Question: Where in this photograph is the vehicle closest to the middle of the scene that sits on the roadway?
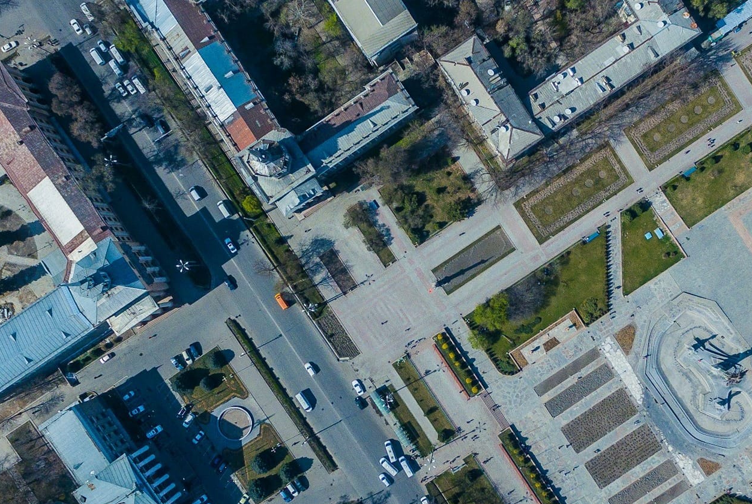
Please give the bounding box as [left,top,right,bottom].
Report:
[274,293,289,311]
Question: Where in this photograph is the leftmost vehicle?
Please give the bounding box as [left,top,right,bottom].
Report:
[1,41,19,54]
